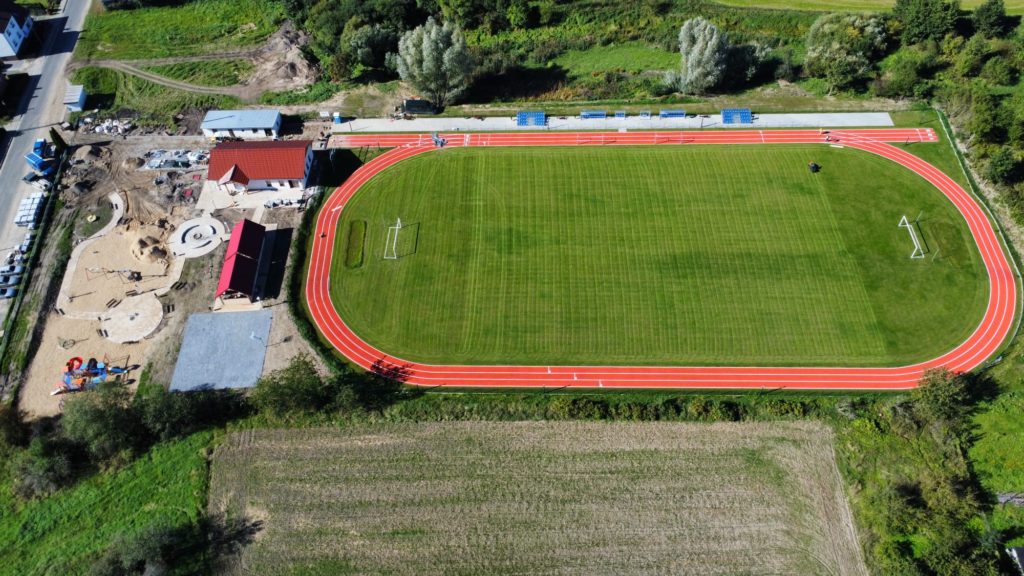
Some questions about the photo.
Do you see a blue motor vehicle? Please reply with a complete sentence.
Yes, there is a blue motor vehicle in the image.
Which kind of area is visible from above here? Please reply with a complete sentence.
This image shows a sports ground.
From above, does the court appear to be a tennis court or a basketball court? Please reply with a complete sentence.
I'd identify the court as a basketball court.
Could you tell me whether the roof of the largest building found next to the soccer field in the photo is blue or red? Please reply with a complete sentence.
From above, the roof of the largest building found next to the soccer field appears red.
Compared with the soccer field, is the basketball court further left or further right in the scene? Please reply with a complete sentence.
The basketball court is to the left of the soccer field.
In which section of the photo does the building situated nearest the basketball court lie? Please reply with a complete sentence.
Look in the left portion of the view to spot the building situated nearest the basketball court.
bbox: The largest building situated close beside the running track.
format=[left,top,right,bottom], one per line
[207,142,315,195]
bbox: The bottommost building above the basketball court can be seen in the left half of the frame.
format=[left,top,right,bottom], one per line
[217,218,267,303]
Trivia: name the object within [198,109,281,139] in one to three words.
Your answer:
building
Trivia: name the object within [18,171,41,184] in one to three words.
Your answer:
vehicle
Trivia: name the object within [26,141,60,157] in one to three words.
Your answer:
vehicle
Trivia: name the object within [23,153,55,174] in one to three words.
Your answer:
truck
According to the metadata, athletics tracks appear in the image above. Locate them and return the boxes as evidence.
[307,129,1016,389]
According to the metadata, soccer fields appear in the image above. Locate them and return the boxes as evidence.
[328,143,990,368]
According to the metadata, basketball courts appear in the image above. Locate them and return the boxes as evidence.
[169,310,272,391]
